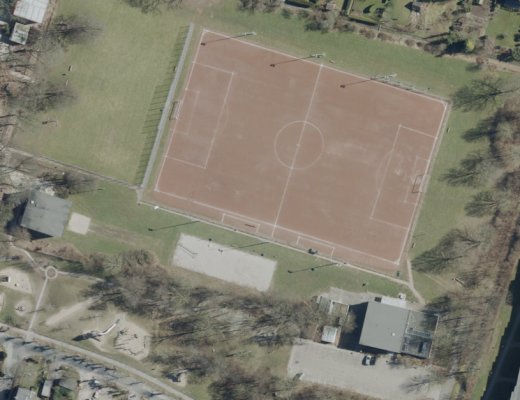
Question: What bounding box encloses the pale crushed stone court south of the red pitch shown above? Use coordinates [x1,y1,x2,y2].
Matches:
[172,233,278,292]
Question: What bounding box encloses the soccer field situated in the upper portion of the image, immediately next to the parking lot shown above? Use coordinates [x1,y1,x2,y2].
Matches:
[152,26,450,278]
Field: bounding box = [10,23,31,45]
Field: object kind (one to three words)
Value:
building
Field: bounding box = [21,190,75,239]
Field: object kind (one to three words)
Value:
building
